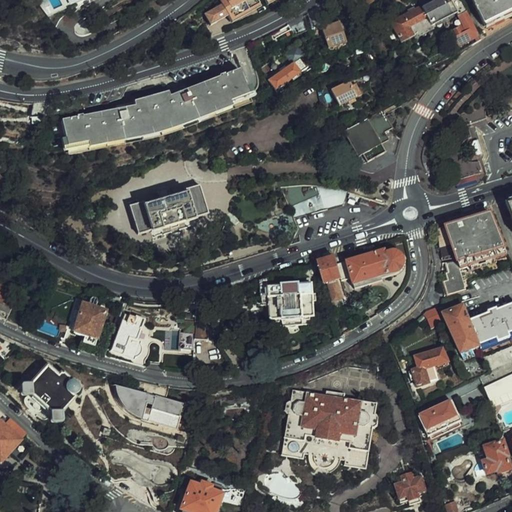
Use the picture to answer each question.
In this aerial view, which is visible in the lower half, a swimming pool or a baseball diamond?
swimming pool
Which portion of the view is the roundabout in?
right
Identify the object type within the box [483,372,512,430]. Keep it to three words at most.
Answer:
building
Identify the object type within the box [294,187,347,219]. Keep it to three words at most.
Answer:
shed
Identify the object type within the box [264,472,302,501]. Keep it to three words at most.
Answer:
swimming pool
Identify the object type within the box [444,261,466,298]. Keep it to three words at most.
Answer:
house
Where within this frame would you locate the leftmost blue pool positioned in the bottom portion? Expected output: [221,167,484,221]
[37,320,60,338]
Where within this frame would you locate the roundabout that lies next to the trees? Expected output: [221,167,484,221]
[384,184,440,234]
